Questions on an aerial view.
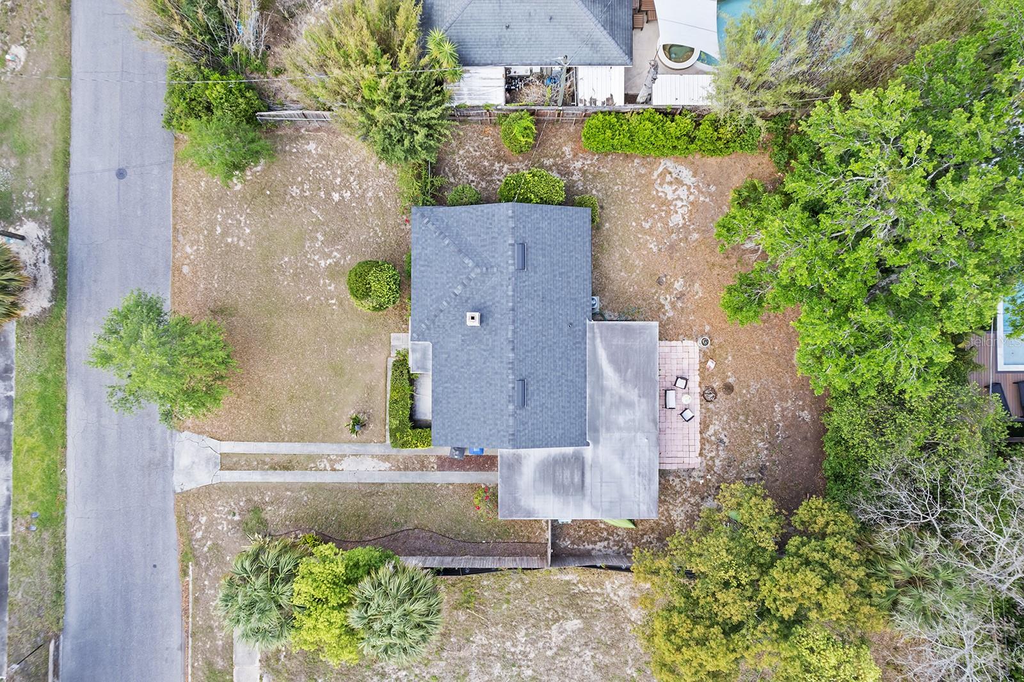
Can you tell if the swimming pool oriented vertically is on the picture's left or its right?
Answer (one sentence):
It is on the right.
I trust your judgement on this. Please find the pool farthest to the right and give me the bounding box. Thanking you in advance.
[994,282,1024,373]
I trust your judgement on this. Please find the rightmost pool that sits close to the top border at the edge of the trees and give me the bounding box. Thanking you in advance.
[696,0,869,73]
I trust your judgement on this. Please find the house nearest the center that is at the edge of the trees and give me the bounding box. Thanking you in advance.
[409,202,659,519]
